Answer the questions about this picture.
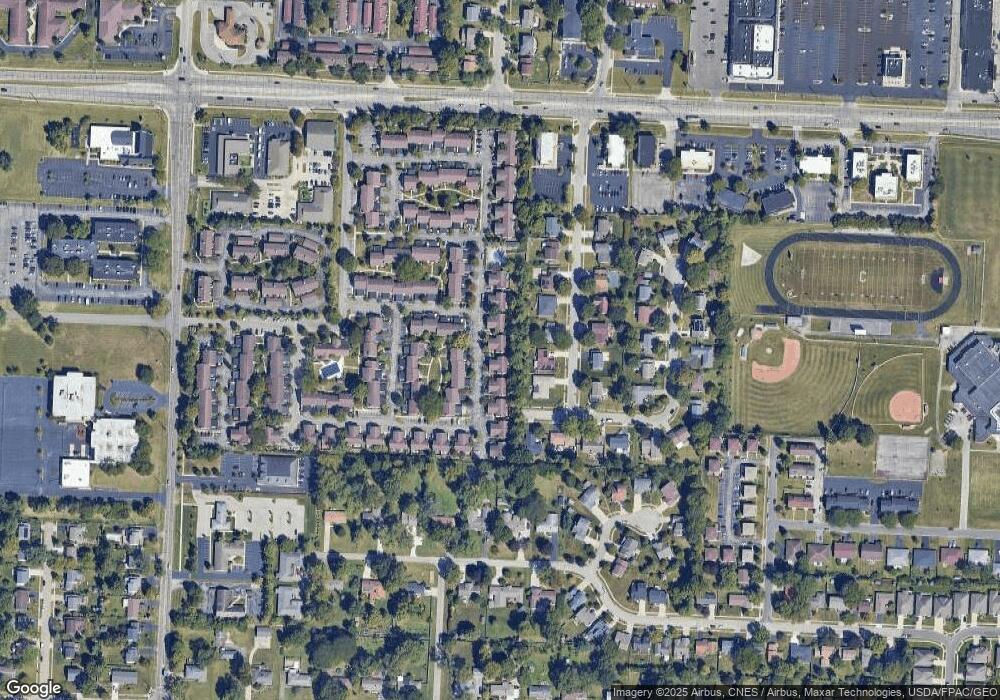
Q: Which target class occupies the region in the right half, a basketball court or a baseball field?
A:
baseball field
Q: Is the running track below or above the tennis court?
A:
above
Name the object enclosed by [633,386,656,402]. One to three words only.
house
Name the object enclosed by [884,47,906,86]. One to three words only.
building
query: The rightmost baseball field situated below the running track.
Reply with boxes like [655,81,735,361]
[854,354,922,428]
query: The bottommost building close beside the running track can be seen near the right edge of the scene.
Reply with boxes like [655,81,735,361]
[947,333,1000,442]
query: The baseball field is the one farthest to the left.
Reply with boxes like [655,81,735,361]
[737,327,860,432]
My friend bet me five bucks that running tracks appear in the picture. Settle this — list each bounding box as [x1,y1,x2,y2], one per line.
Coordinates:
[755,232,961,320]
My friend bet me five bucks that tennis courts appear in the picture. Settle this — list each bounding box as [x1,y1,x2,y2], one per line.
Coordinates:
[876,435,928,480]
